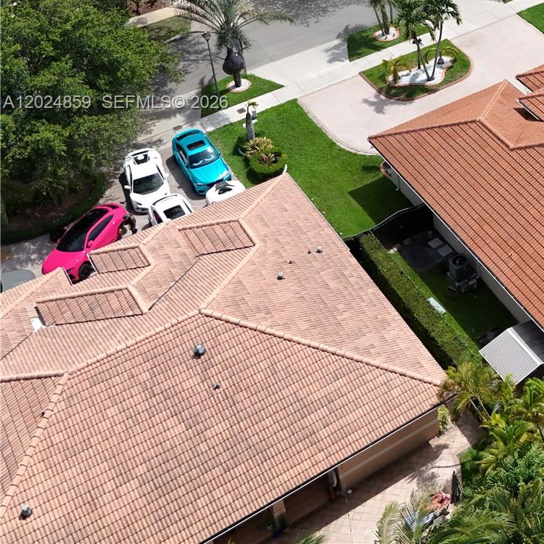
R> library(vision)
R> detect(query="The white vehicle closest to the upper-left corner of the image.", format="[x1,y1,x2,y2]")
[125,148,172,212]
